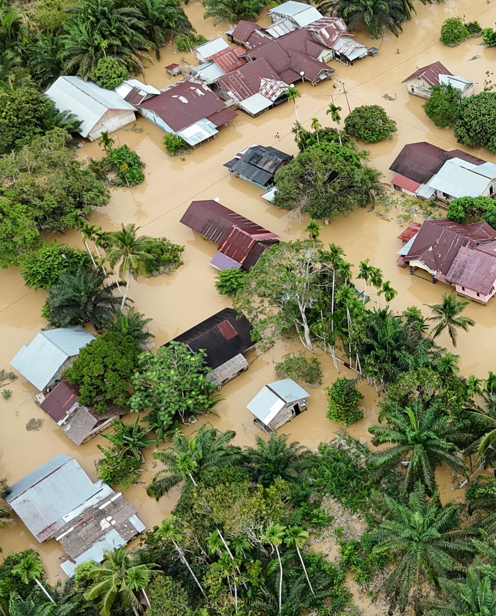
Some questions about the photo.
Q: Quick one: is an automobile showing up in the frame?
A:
No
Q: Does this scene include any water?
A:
Yes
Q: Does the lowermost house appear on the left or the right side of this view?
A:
left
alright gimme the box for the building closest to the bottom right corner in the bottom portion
[248,379,309,436]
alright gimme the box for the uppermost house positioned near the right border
[409,61,473,98]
